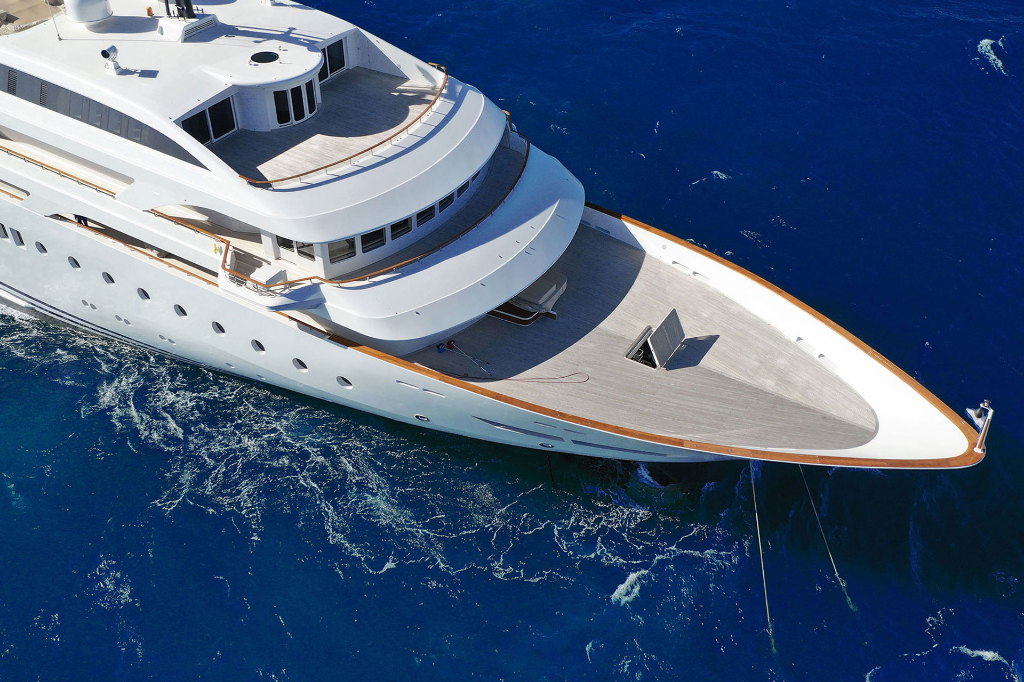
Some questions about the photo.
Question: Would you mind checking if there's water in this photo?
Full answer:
Yes, water shows up in the scene.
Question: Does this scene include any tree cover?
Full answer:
No, tree cover can't be seen anywhere here.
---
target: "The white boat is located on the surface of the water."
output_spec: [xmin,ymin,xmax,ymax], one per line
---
[0,0,994,474]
